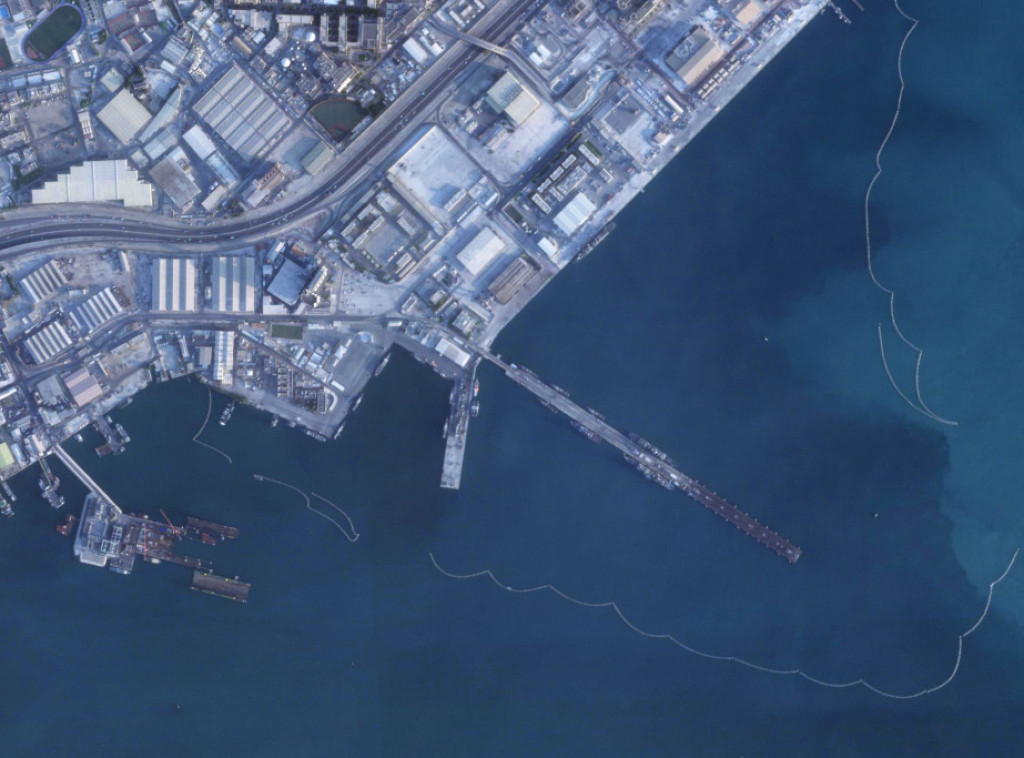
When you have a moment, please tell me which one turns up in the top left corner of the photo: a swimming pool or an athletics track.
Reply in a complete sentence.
Looking in the top left corner of the photo, you will find an athletics track.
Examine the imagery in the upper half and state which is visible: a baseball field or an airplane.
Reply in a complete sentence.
The feature located in the upper half is a baseball field.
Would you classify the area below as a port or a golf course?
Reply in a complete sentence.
This looks like a port.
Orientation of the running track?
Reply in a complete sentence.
Seen from above, the running track lies at an angle.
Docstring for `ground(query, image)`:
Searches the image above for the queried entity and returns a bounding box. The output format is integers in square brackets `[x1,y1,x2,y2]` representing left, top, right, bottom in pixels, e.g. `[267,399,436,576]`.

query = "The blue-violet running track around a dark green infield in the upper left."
[21,1,86,65]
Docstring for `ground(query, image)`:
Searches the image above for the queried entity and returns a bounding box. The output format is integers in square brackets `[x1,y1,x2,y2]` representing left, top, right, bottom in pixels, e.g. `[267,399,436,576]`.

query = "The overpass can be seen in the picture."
[419,11,557,105]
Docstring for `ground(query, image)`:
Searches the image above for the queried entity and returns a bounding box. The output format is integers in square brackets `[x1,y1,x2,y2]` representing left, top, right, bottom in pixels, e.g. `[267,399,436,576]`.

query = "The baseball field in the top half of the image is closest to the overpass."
[308,98,370,142]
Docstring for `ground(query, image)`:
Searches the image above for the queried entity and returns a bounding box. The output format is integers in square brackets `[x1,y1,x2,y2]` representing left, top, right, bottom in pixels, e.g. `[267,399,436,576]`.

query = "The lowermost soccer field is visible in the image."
[270,321,304,340]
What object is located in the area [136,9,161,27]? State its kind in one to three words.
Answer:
building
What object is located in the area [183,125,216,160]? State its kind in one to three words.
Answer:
building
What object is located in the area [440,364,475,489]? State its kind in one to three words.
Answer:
pier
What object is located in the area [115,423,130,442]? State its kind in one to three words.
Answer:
boat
